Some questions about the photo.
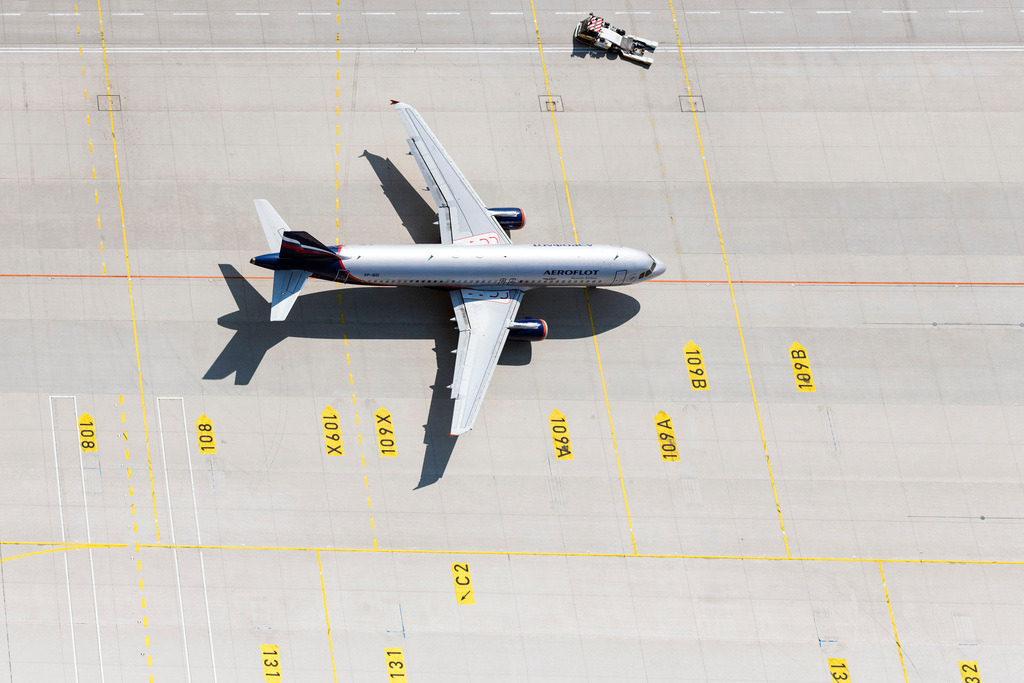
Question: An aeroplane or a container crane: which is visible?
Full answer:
Of the two, only an aeroplane appears.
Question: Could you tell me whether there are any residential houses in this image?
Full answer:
No, no residential house can be seen from above.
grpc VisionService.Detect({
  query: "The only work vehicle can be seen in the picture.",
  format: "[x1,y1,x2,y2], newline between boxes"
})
[575,13,658,66]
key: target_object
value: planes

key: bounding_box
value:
[250,101,666,437]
